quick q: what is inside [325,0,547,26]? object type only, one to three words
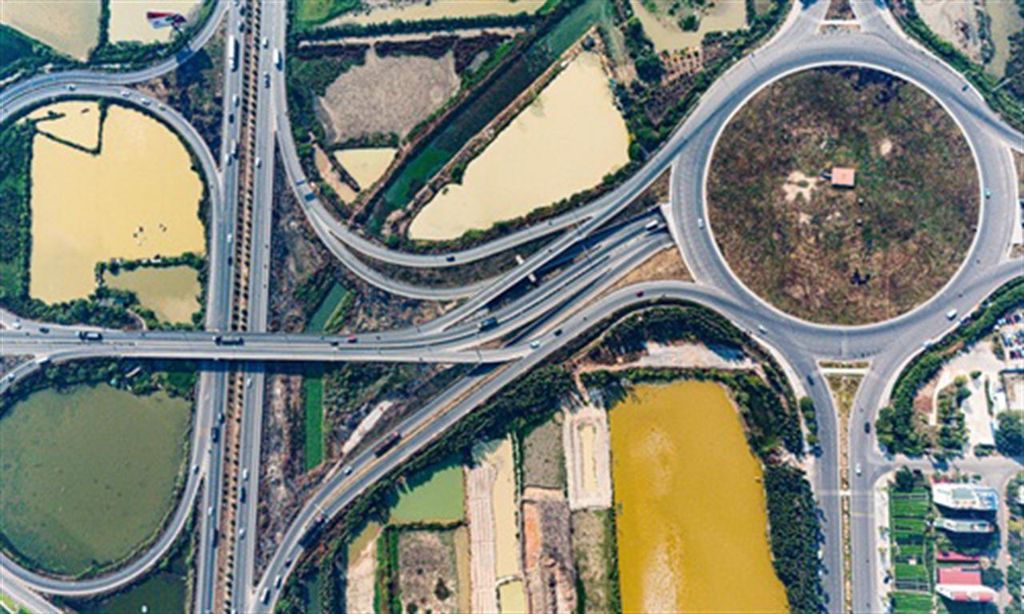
pond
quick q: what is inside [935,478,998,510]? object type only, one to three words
house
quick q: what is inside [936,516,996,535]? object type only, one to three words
house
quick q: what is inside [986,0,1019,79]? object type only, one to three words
pond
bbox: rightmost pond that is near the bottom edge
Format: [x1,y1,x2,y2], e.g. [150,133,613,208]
[611,381,791,614]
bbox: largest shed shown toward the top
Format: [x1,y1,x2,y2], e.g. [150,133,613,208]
[834,165,859,184]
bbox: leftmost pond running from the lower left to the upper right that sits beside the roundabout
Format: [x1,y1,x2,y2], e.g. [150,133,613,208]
[409,51,630,240]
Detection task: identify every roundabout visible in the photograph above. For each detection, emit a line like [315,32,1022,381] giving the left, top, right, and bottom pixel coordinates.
[668,0,1024,614]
